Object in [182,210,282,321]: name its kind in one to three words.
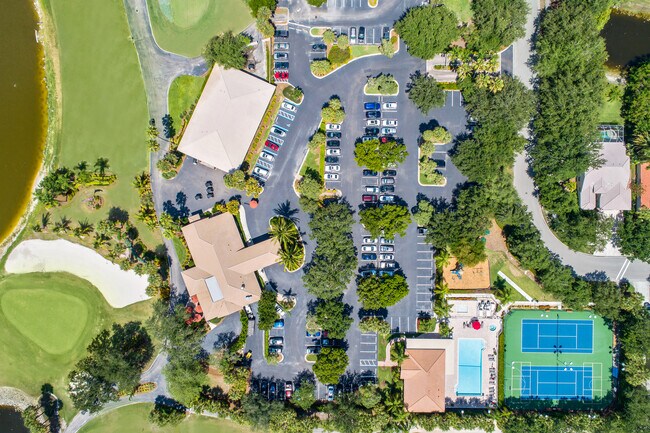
building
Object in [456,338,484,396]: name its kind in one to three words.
swimming pool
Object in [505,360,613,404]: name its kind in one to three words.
tennis court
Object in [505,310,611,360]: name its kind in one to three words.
tennis court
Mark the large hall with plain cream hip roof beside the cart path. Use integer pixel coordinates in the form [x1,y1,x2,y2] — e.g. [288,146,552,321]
[180,65,275,172]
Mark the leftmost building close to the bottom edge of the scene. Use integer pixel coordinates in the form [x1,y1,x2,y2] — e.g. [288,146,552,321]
[400,348,445,412]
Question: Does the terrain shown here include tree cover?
Yes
